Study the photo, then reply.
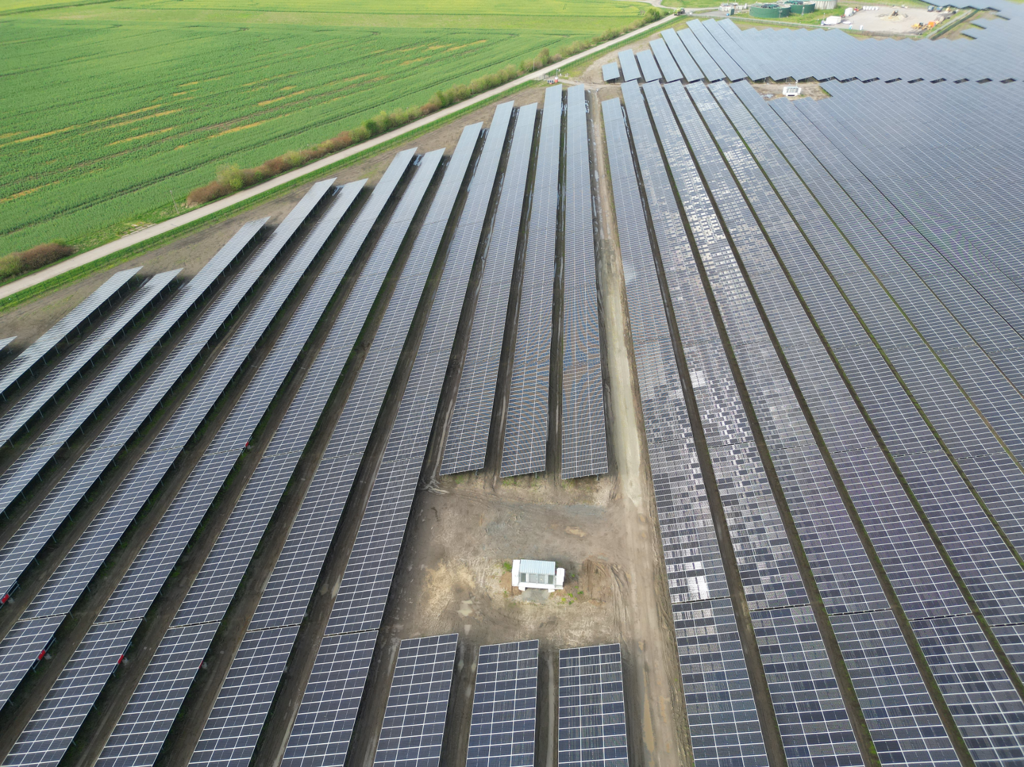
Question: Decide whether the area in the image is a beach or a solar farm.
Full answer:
The area seen from above is a solar farm.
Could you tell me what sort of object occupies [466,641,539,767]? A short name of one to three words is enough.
solar array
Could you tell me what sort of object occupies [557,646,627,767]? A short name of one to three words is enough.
solar array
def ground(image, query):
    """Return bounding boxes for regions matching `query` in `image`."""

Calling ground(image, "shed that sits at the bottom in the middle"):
[512,557,564,601]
